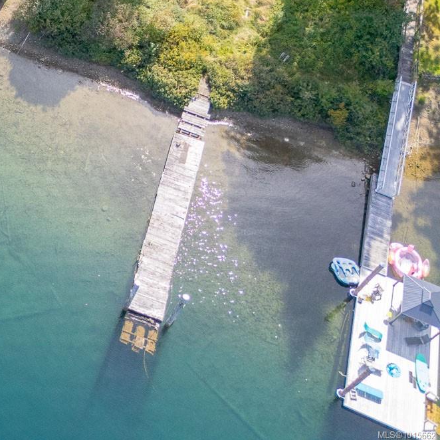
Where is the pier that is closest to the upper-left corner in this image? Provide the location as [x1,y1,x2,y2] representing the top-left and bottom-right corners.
[128,80,214,331]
